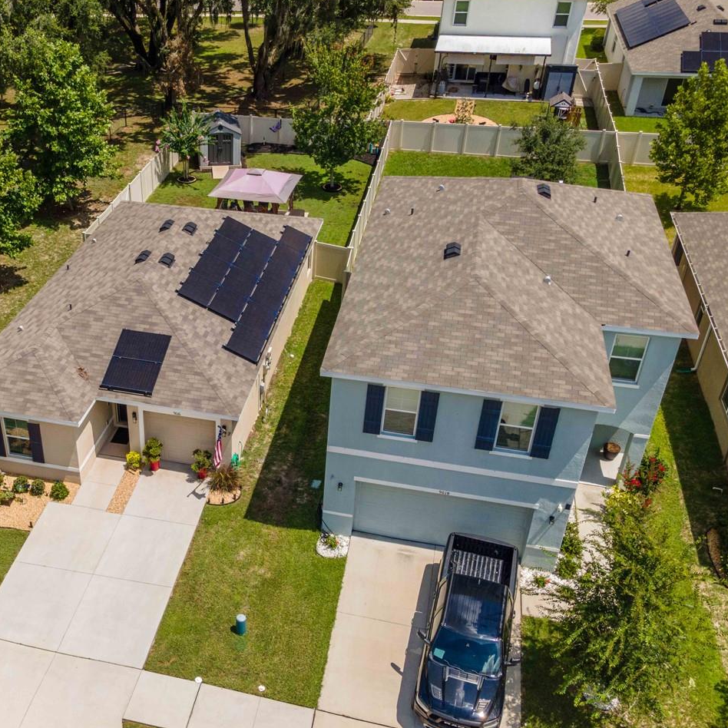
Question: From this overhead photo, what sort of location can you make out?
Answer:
residential area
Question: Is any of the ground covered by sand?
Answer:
No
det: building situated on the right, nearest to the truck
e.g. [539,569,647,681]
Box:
[318,175,702,570]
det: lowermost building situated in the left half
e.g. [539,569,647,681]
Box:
[0,203,325,482]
